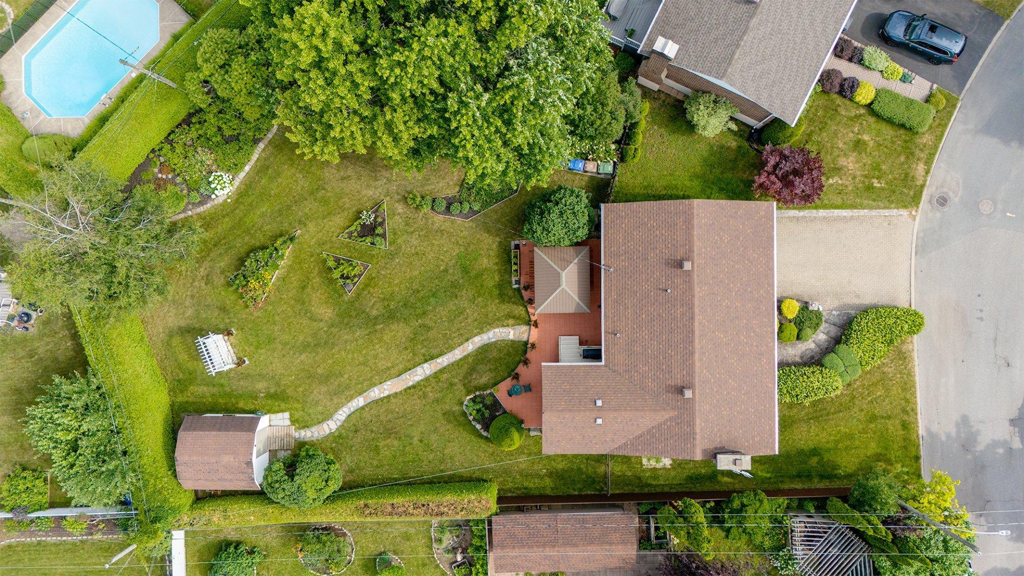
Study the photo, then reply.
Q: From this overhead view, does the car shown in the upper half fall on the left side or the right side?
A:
right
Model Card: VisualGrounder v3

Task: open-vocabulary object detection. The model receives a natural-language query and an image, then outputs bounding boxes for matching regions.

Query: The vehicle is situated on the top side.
[878,9,976,67]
